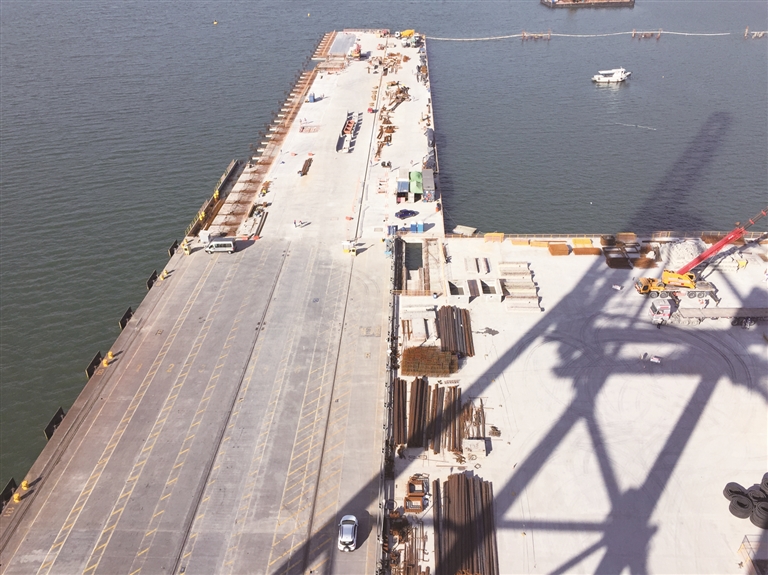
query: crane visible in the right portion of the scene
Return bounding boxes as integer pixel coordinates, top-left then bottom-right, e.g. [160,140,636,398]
[631,205,768,305]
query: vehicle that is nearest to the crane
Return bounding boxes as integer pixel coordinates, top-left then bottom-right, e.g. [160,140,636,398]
[646,296,768,325]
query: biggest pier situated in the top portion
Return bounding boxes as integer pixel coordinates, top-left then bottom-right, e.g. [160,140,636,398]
[214,30,443,244]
